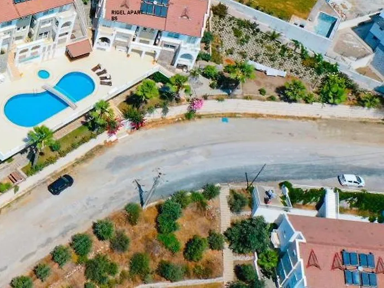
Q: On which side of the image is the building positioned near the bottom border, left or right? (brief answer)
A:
right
